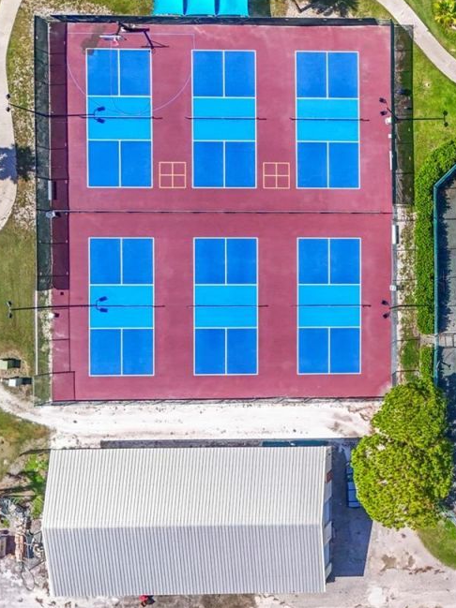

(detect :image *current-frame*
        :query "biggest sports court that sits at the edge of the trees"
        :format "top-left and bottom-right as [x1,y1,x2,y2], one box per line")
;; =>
[50,21,393,402]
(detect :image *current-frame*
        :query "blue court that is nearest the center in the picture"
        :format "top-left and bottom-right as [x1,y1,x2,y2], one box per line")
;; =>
[192,235,258,376]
